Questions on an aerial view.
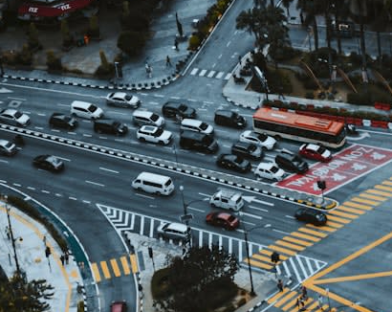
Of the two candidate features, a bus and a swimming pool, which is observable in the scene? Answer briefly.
bus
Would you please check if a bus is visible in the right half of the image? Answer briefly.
Yes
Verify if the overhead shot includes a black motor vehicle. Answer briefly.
Yes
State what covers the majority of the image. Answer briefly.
paved ground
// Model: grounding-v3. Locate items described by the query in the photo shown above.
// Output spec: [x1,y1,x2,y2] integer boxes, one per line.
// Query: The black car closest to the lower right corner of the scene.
[292,209,328,228]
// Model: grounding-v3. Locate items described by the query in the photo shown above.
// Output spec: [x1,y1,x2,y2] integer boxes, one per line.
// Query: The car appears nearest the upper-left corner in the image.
[0,109,31,127]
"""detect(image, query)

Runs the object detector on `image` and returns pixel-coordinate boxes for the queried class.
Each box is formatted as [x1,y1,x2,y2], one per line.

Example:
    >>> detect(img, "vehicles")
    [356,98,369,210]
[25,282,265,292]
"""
[44,111,82,131]
[295,145,335,163]
[30,156,67,174]
[134,125,172,145]
[209,187,243,210]
[104,92,141,109]
[90,114,129,137]
[67,98,105,119]
[209,104,250,129]
[177,114,216,137]
[128,107,167,128]
[214,155,253,174]
[252,162,287,182]
[252,108,351,149]
[239,132,277,150]
[131,169,174,194]
[0,109,31,127]
[202,212,243,231]
[227,140,267,162]
[178,130,218,153]
[0,140,20,157]
[292,209,328,228]
[271,149,311,174]
[159,101,197,119]
[109,304,127,312]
